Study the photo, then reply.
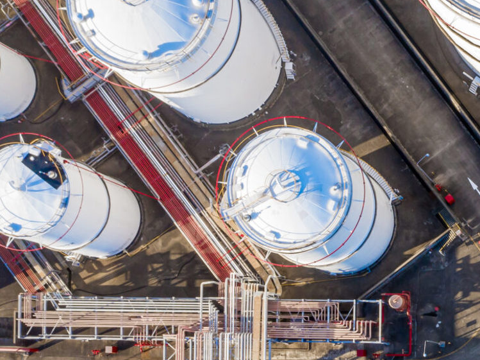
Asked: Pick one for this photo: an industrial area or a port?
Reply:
industrial area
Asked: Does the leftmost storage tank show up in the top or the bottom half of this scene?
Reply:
top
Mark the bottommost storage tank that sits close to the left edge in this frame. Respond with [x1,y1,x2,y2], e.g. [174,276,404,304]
[0,128,157,268]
